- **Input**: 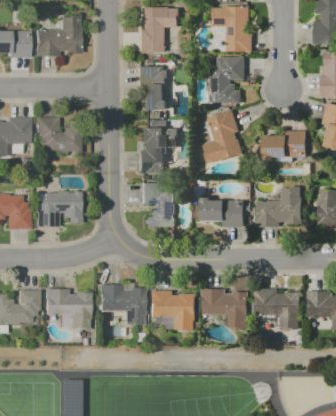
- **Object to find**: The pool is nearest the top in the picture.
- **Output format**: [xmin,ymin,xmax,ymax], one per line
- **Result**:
[196,28,210,49]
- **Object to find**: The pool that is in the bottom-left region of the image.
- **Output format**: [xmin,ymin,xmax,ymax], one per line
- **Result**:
[48,327,72,341]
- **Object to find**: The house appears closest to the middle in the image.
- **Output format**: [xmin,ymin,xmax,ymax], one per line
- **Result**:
[143,180,174,228]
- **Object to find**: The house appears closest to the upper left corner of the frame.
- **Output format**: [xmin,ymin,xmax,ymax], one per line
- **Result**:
[0,30,32,58]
